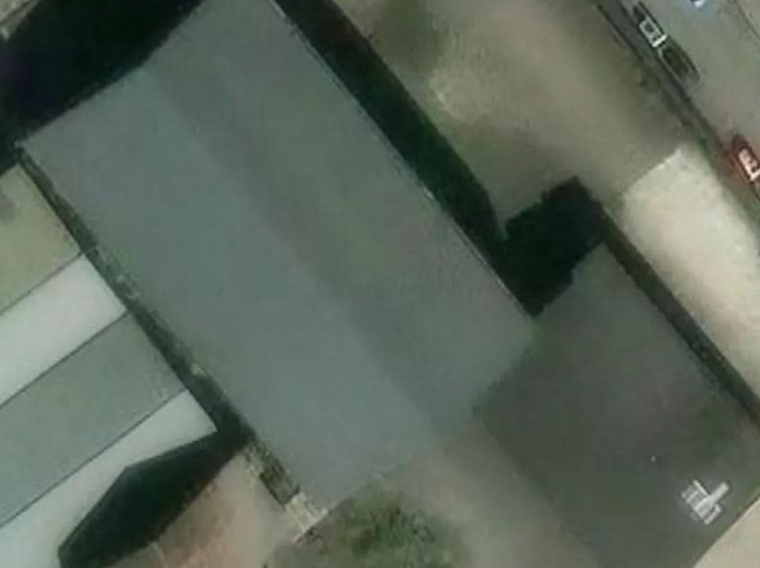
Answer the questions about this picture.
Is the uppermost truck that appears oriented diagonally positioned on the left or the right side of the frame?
right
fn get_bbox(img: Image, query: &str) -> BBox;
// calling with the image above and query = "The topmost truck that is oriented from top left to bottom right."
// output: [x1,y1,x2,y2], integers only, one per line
[633,4,677,53]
